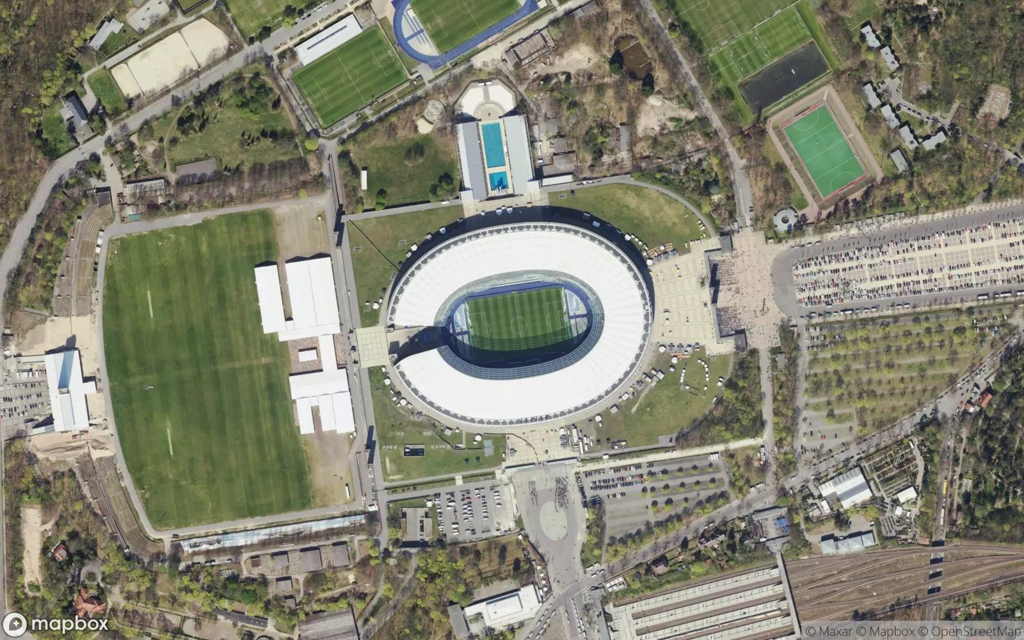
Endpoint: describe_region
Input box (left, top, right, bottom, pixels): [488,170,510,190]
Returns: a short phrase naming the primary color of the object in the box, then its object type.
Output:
blue swimming pool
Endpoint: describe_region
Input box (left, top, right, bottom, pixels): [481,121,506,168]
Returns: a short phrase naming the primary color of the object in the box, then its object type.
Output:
blue swimming pool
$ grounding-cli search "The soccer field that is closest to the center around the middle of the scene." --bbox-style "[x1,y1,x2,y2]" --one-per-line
[465,286,573,365]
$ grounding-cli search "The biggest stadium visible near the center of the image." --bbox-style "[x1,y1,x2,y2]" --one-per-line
[385,221,654,428]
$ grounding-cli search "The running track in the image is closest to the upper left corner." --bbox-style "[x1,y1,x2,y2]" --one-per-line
[393,0,547,74]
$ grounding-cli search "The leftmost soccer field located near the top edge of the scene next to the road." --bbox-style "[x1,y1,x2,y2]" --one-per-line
[293,24,408,127]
